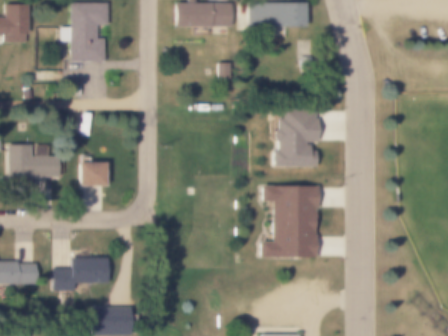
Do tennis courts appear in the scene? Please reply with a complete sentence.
No, no tennis court can be seen from above.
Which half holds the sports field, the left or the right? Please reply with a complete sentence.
The sports field sits on the right side.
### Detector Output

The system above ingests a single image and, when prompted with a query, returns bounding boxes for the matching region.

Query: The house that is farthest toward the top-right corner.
[247,1,310,28]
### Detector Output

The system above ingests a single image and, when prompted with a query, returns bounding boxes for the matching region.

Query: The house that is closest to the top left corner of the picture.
[0,3,30,42]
